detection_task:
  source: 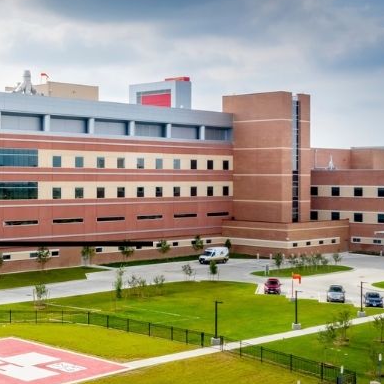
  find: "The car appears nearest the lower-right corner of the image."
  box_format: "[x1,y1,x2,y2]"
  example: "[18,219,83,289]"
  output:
[364,289,384,306]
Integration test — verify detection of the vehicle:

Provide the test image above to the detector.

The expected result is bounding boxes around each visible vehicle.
[327,283,347,301]
[265,277,284,292]
[196,245,231,263]
[364,289,384,306]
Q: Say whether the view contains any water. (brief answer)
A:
No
